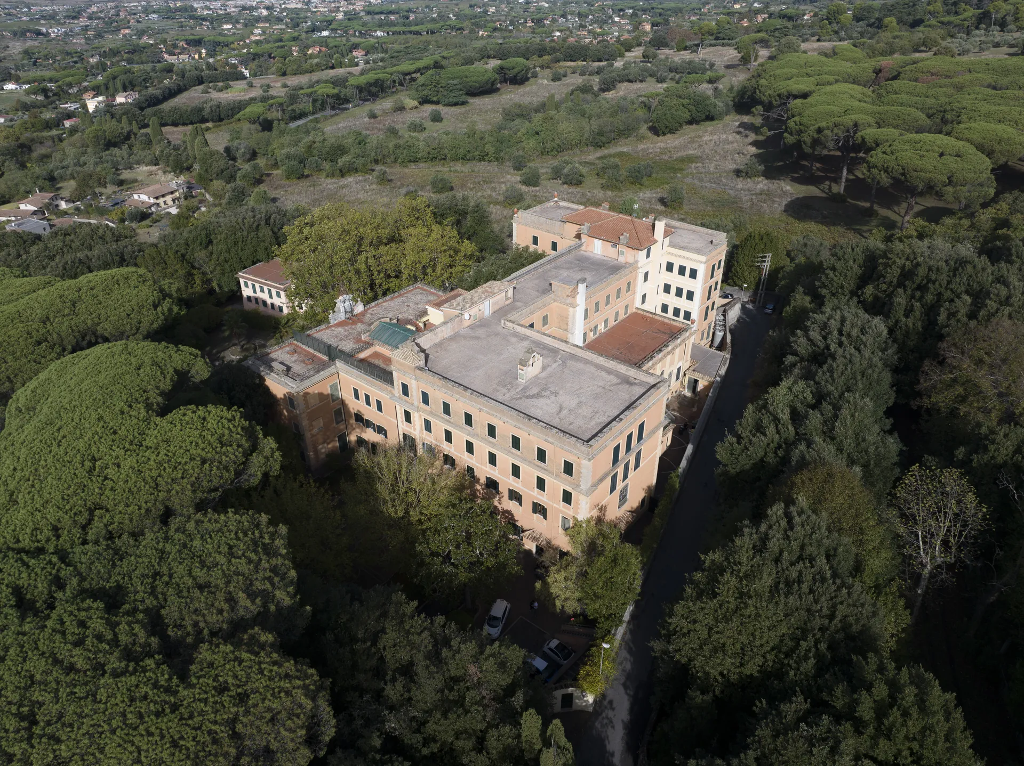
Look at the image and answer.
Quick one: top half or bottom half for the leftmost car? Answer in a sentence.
The leftmost car sits in the bottom half of the picture.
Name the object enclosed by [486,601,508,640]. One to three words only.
car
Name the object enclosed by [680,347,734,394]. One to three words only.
shed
